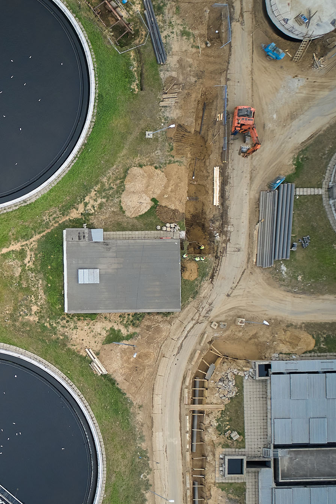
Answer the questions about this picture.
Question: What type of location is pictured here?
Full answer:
This looks like an industrial area.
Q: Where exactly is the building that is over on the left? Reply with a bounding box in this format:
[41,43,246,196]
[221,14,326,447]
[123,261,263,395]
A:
[60,228,181,313]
